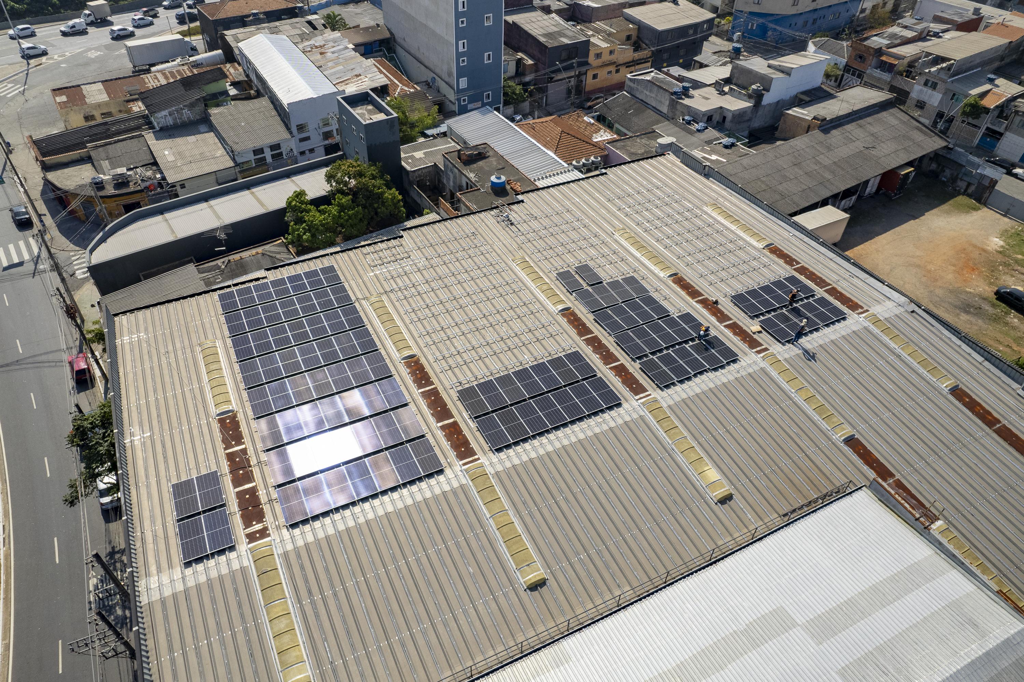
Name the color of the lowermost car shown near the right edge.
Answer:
black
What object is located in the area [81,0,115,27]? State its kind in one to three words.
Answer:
truck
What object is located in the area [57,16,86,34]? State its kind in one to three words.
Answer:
vehicle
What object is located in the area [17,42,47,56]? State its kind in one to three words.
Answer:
car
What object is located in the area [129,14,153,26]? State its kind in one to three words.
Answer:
vehicle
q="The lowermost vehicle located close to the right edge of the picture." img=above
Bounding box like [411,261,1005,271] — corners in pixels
[993,283,1024,314]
